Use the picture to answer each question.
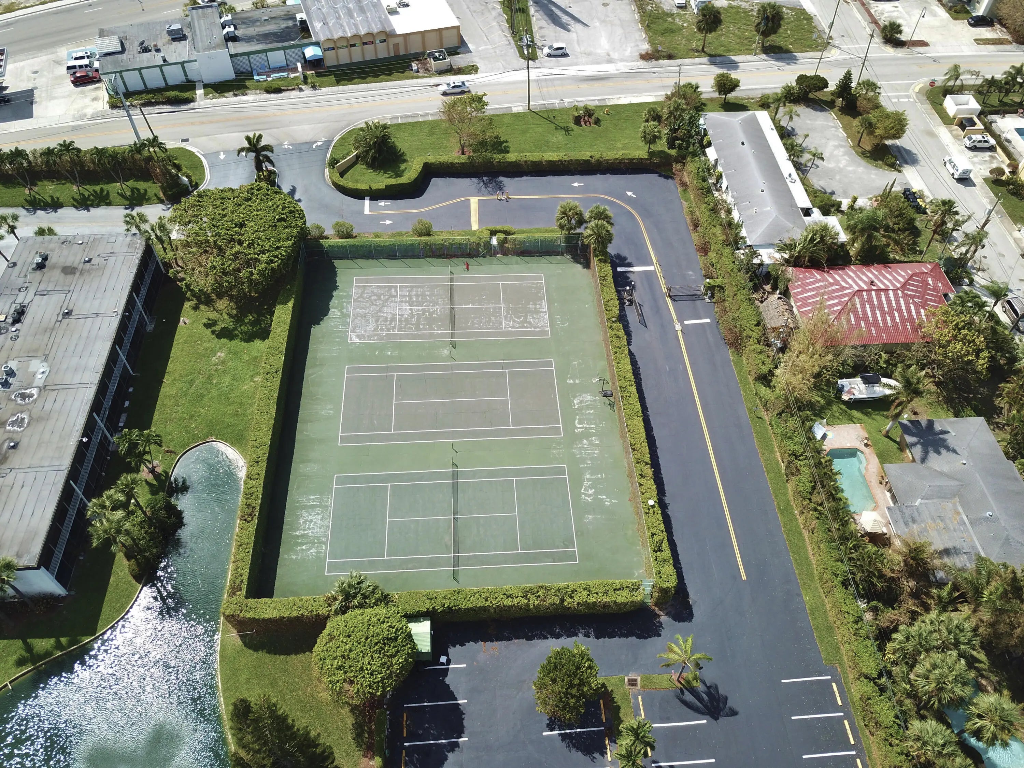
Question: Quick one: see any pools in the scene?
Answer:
Yes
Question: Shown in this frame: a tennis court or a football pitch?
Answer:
tennis court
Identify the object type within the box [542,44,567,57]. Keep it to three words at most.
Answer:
vehicle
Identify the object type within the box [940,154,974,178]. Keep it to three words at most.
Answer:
truck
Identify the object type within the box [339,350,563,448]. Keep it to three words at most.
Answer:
tennis court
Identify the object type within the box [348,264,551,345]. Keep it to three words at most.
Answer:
tennis court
